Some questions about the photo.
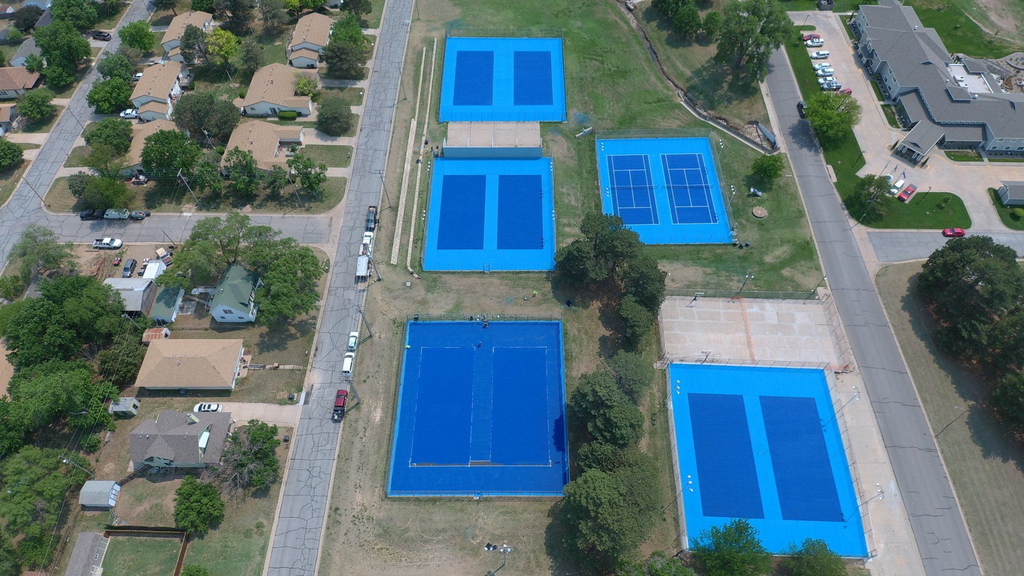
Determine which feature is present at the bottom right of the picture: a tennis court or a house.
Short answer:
tennis court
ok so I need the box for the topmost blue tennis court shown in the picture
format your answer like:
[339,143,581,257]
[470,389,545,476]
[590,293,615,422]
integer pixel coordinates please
[439,37,566,121]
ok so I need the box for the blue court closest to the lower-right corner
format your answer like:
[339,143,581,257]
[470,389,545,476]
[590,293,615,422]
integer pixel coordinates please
[667,362,871,559]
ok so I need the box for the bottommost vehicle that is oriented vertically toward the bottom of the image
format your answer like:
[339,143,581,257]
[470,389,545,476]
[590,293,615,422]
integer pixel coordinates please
[332,391,347,419]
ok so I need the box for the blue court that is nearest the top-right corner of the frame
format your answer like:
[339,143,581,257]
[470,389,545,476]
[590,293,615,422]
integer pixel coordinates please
[597,137,733,244]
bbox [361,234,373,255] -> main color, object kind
white vehicle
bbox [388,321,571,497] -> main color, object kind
blue tennis court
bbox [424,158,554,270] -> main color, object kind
blue tennis court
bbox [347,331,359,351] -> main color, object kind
white vehicle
